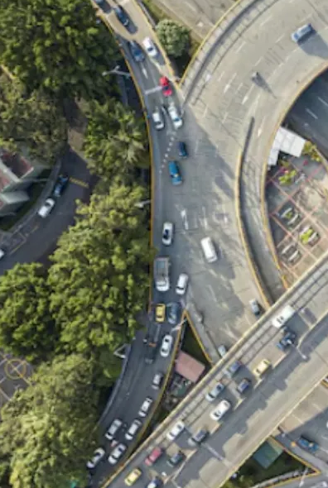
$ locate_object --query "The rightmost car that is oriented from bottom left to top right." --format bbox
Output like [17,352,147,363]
[293,22,313,39]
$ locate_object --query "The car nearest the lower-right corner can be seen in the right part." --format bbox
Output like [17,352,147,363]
[295,437,317,452]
